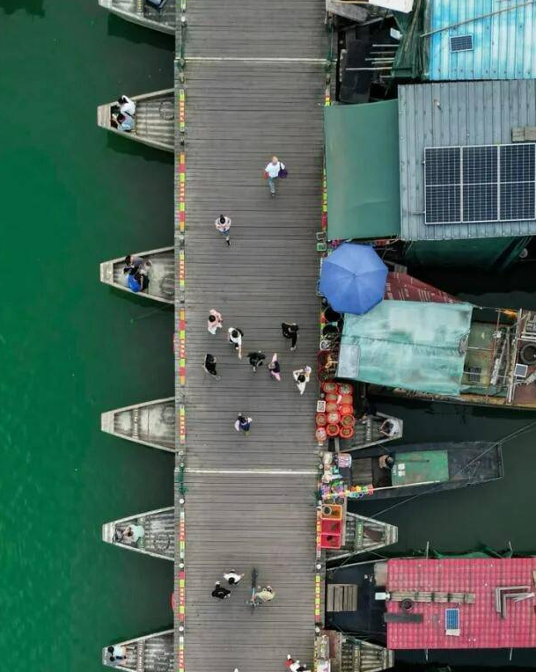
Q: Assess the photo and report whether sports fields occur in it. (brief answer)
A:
No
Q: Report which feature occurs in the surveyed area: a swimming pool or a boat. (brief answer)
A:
boat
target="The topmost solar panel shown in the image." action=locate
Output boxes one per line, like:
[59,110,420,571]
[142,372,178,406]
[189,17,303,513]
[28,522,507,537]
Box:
[448,34,473,52]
